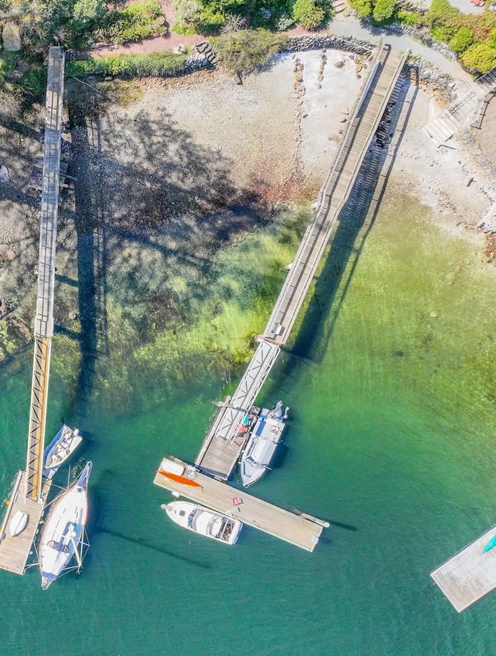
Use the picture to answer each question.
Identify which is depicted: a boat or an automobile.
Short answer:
boat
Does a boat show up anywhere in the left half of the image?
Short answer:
Yes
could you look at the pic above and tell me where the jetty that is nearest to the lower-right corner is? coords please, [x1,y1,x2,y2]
[429,525,496,614]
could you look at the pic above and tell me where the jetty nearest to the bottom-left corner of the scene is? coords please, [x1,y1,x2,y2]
[0,469,62,578]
